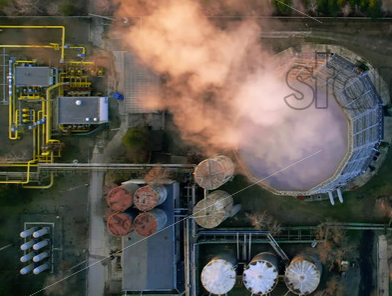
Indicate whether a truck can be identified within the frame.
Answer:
No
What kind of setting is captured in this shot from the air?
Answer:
industrial area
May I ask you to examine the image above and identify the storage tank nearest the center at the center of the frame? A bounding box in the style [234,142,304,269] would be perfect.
[194,152,235,191]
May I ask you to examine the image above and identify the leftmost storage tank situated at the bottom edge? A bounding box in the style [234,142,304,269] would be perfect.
[201,252,241,294]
